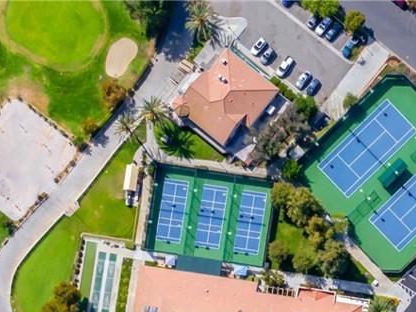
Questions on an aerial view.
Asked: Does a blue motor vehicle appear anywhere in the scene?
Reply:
Yes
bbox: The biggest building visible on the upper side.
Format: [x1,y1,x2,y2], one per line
[173,48,279,147]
